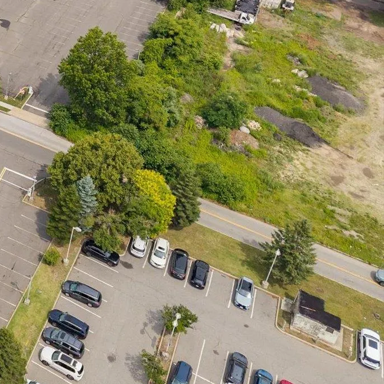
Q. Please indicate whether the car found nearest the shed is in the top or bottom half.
bottom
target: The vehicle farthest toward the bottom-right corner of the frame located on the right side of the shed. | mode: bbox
[356,331,384,371]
